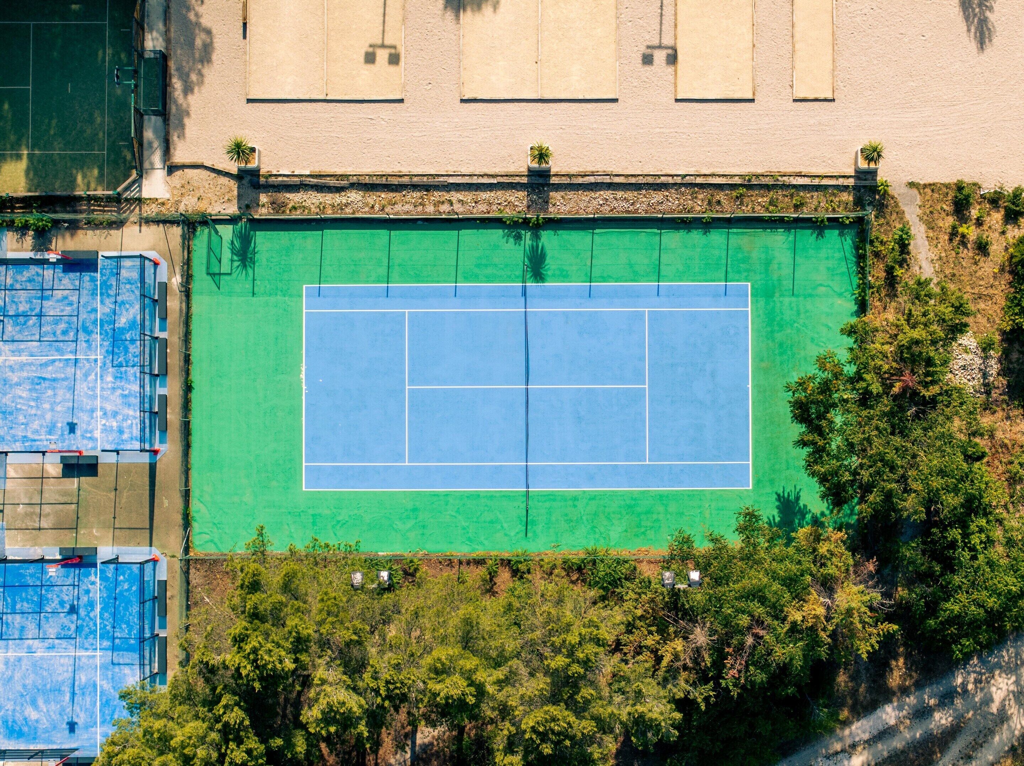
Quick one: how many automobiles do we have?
0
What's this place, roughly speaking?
sports ground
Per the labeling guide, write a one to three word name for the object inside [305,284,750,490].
tennis court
